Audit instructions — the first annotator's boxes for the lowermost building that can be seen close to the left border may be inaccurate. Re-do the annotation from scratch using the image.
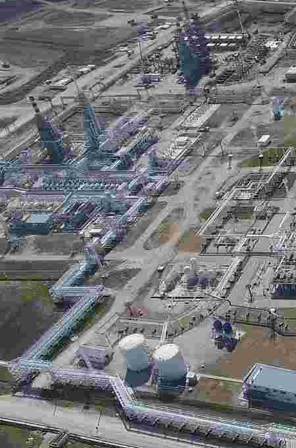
[7,210,61,234]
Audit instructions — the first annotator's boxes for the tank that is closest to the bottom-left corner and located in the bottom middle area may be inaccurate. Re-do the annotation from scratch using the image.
[117,331,156,373]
